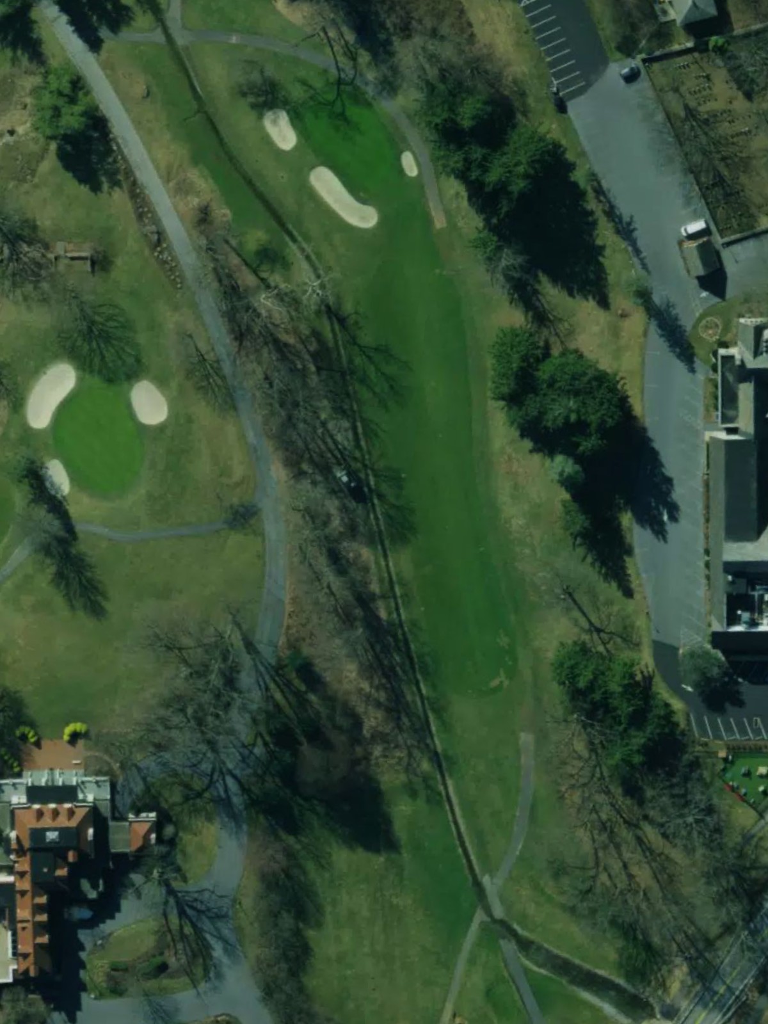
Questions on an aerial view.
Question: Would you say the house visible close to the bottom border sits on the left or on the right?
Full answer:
You can find the house visible close to the bottom border on the left side of the picture.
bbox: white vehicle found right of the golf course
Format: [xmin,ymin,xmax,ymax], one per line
[680,220,707,236]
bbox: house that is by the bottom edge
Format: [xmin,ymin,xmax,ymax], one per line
[0,766,158,983]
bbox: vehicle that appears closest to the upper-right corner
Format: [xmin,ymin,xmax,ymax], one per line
[620,66,641,78]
